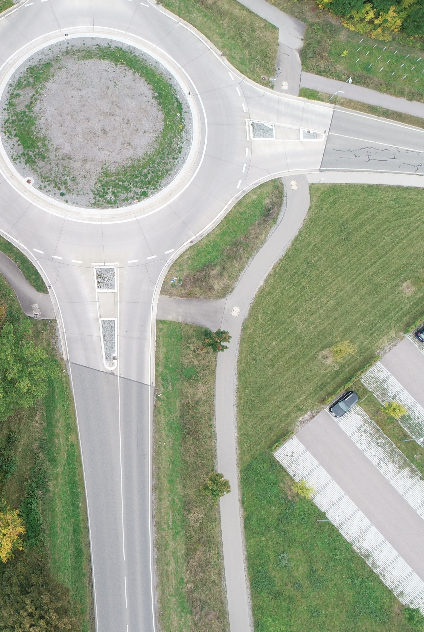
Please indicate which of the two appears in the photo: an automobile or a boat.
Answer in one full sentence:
This aerial view contains an automobile.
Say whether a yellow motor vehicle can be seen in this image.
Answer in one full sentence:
No, there appears to be no yellow motor vehicle in this shot.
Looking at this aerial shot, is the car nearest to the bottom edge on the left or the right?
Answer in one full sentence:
You can find the car nearest to the bottom edge on the right side of the picture.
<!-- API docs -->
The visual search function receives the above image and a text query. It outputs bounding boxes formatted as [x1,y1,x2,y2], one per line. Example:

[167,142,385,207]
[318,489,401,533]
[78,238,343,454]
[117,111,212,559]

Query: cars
[329,391,360,417]
[414,325,424,342]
